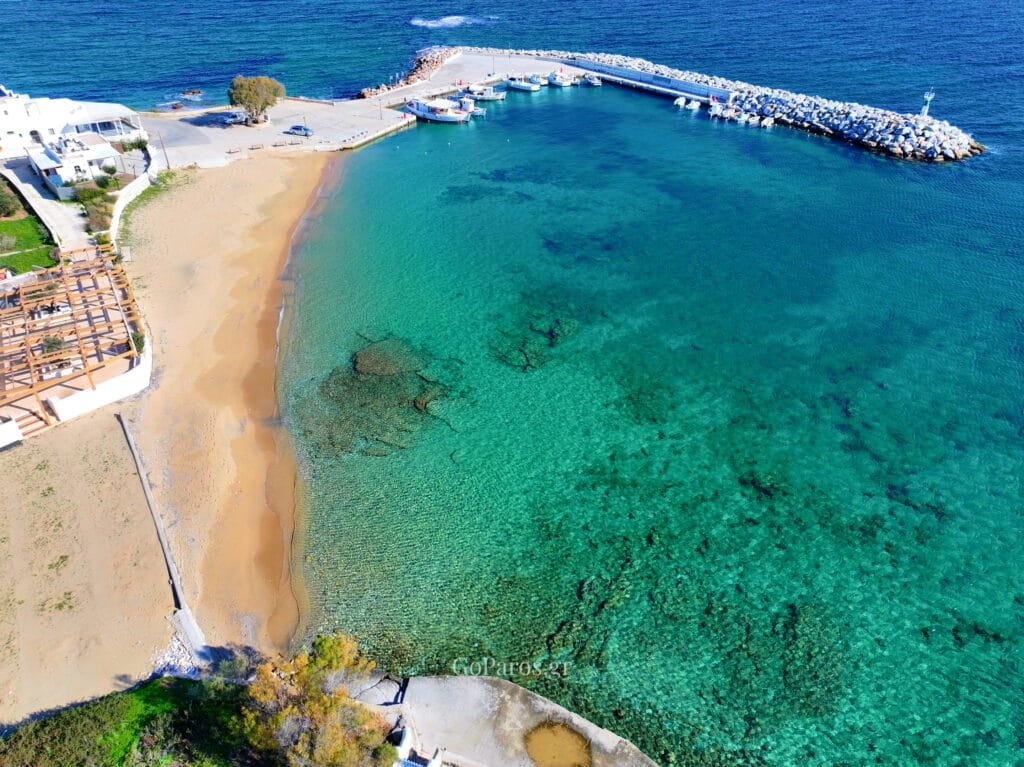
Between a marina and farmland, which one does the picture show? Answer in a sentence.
This image shows a marina.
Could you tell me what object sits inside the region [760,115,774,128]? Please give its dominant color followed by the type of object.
white boat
